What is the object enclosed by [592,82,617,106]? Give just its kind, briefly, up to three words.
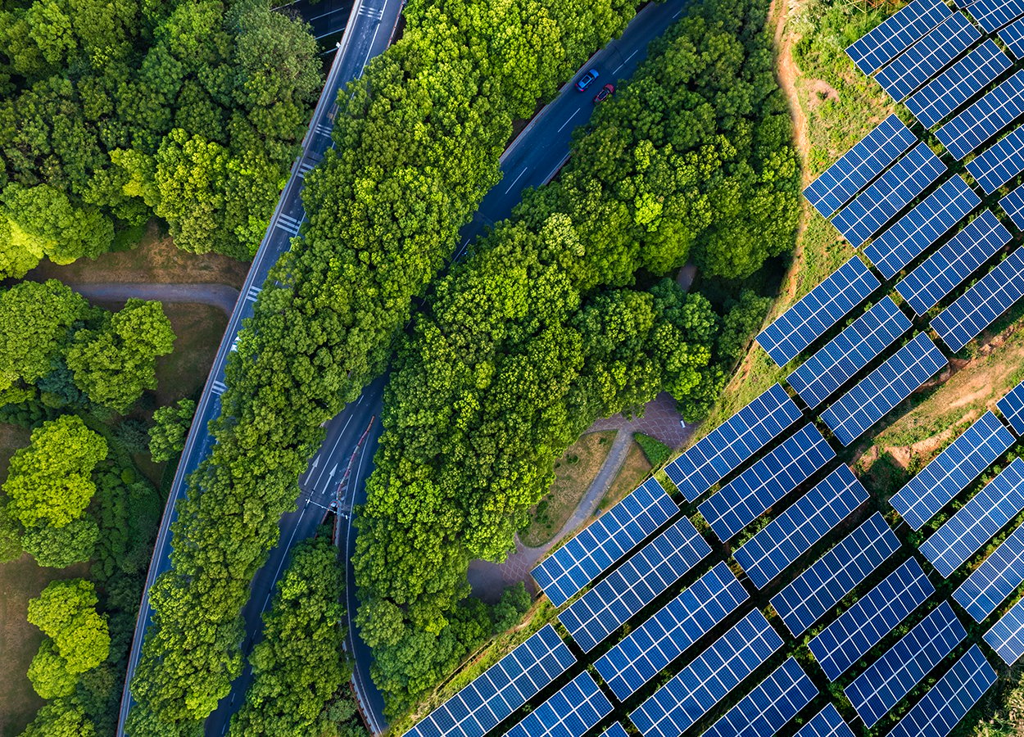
car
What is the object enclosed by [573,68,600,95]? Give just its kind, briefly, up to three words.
car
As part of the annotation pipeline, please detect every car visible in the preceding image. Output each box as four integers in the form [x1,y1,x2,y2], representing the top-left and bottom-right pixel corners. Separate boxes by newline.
[592,82,617,106]
[573,68,600,95]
